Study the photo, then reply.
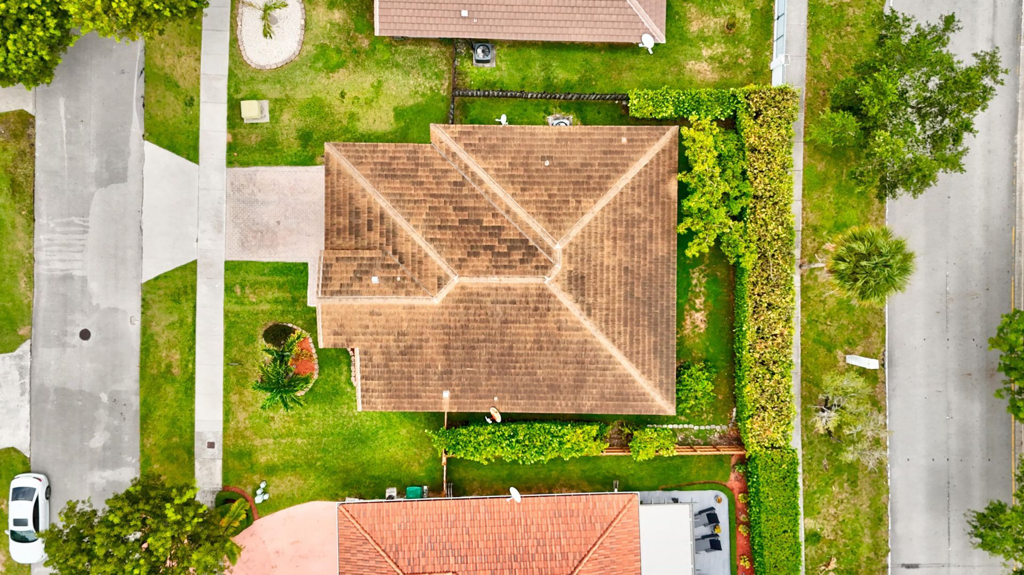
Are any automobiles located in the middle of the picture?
No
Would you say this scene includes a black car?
No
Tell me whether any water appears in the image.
No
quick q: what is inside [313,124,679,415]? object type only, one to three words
house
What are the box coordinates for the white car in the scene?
[5,474,56,564]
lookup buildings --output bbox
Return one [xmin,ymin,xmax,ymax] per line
[370,0,667,44]
[313,124,679,415]
[335,485,644,575]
